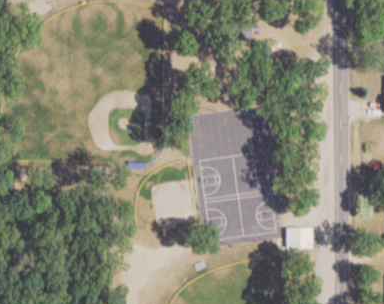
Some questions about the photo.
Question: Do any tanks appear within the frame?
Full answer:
No, I can't see a single tank in this photo.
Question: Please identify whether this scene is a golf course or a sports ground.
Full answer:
This looks like a sports ground.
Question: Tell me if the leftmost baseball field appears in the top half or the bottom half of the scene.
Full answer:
It is in the top half that the leftmost baseball field appears.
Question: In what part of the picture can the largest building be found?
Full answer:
The largest building appears toward the bottom right of the photo.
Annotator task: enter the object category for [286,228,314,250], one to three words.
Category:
building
